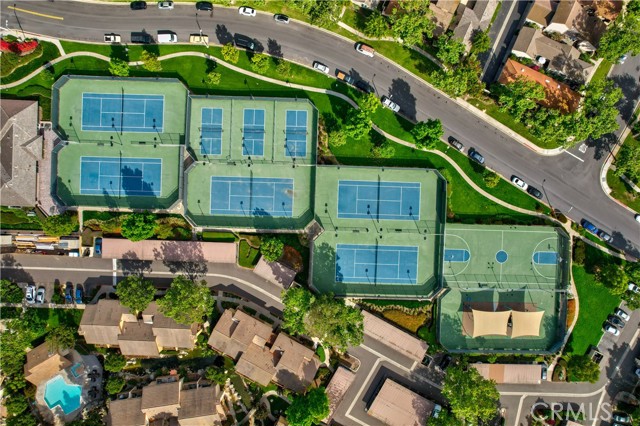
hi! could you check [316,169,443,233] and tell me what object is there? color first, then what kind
green tennis court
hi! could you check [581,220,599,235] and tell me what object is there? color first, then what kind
blue car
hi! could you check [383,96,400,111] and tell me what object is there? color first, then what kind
white car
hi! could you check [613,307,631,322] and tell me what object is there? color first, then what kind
white car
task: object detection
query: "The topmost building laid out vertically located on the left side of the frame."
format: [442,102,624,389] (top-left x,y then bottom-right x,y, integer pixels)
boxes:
[0,99,46,206]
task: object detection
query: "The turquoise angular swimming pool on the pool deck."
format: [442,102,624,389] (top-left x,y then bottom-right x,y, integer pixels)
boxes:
[44,374,81,415]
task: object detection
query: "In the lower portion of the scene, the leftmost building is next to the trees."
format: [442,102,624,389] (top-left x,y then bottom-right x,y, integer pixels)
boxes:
[27,343,76,386]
